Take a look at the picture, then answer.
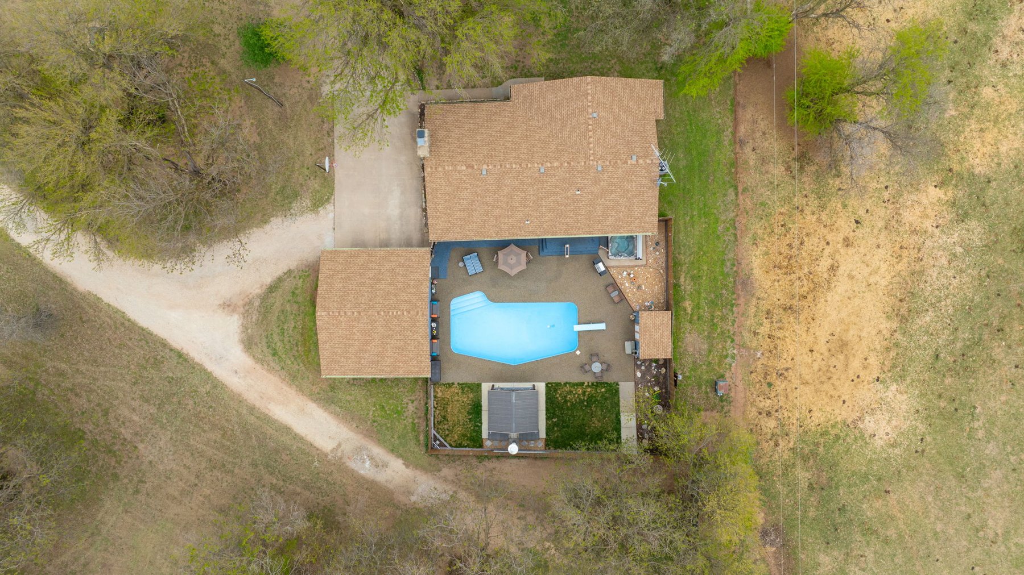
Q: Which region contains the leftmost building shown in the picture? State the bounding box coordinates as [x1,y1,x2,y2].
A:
[316,246,432,379]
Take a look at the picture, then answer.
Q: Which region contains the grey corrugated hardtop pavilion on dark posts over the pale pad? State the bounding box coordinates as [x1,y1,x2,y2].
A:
[488,385,539,442]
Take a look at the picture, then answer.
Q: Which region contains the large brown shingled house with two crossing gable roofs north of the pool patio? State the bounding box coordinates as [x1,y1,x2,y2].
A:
[418,75,665,243]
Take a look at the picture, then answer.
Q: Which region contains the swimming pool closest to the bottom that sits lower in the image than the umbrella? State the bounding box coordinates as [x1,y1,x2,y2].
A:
[450,290,579,365]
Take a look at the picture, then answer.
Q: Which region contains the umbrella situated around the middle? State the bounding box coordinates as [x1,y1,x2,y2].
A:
[498,244,526,276]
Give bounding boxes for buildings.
[316,246,432,379]
[633,311,672,359]
[418,75,665,243]
[488,385,539,442]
